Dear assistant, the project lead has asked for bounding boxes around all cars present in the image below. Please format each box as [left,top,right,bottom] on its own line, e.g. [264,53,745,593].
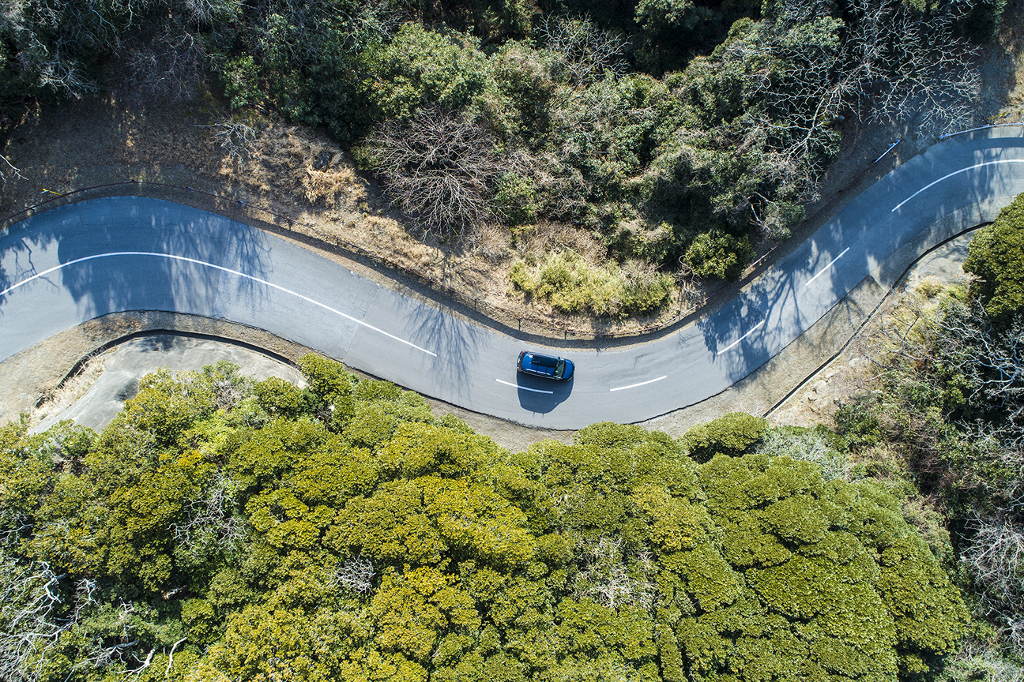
[517,352,574,381]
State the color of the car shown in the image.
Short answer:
blue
